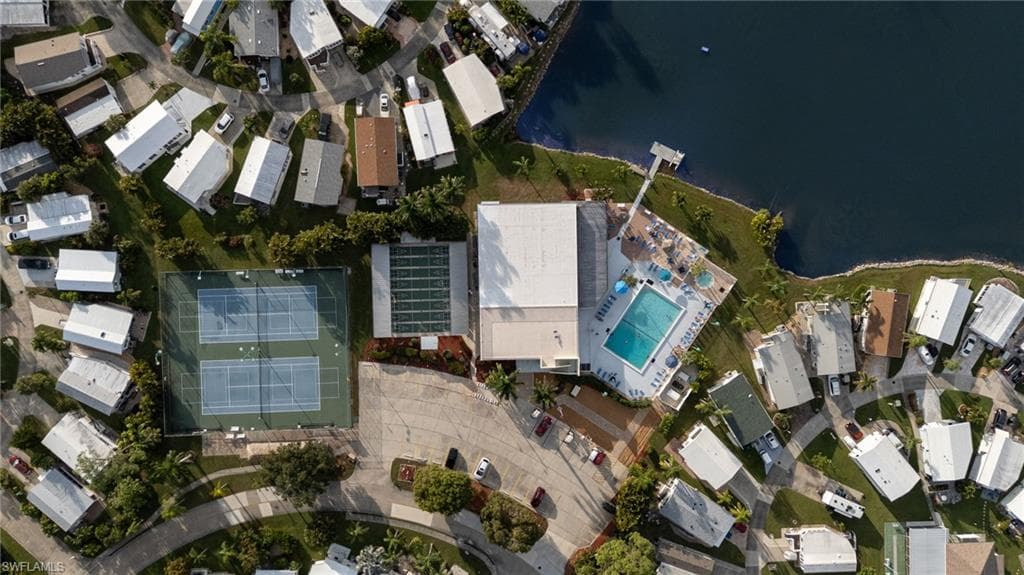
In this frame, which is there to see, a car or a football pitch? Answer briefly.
car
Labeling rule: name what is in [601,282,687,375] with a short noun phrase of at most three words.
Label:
swimming pool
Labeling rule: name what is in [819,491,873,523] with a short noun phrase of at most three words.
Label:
trailer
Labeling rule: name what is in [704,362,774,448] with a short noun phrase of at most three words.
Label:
house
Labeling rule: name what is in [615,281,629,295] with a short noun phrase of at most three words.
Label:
umbrella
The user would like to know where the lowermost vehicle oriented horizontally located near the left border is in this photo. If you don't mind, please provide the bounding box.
[19,258,50,270]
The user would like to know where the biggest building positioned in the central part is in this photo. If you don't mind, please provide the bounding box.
[478,201,608,379]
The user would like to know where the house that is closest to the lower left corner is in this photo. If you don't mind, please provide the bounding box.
[26,467,101,532]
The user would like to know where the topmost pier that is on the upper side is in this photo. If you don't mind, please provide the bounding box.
[648,143,676,179]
